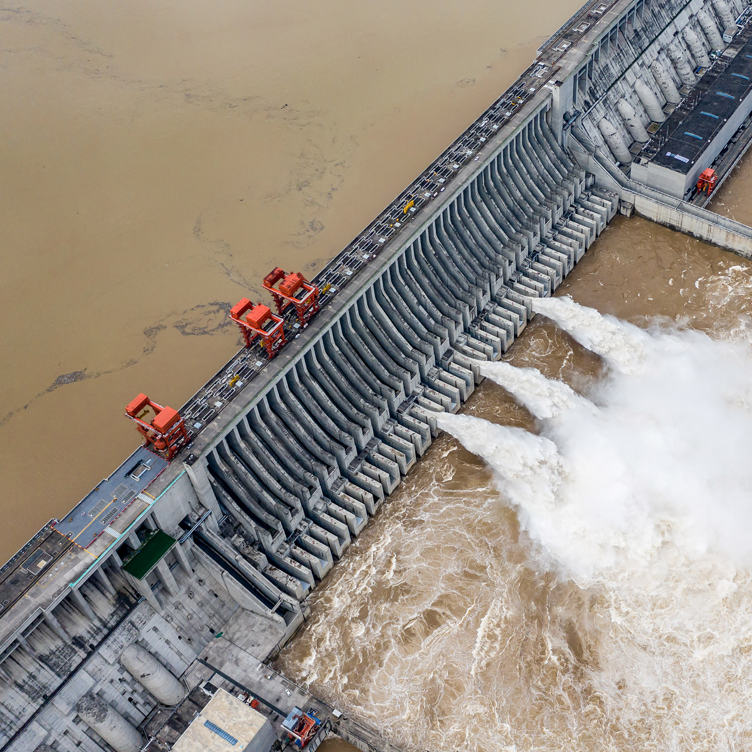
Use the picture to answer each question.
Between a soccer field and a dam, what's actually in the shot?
dam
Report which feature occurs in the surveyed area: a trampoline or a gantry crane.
gantry crane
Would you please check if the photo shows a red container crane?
Yes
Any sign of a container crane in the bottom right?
No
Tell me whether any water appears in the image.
Yes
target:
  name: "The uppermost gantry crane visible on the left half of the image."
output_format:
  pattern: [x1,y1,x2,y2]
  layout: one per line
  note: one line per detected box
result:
[260,265,321,328]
